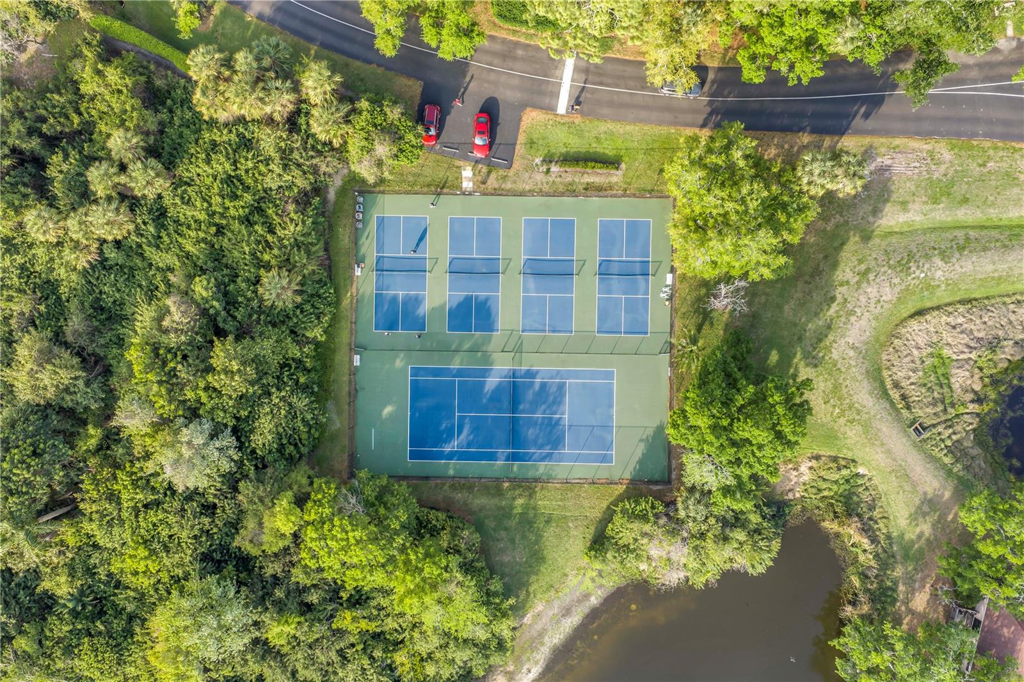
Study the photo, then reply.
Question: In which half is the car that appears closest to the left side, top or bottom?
top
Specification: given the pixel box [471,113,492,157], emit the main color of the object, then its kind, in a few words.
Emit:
red car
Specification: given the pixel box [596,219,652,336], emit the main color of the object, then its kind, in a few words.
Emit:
blue sports court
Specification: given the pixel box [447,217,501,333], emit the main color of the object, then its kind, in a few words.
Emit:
blue sports court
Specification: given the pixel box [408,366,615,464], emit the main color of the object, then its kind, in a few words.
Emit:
blue tennis court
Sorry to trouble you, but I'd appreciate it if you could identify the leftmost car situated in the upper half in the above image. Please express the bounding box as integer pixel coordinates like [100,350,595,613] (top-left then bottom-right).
[419,103,440,146]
